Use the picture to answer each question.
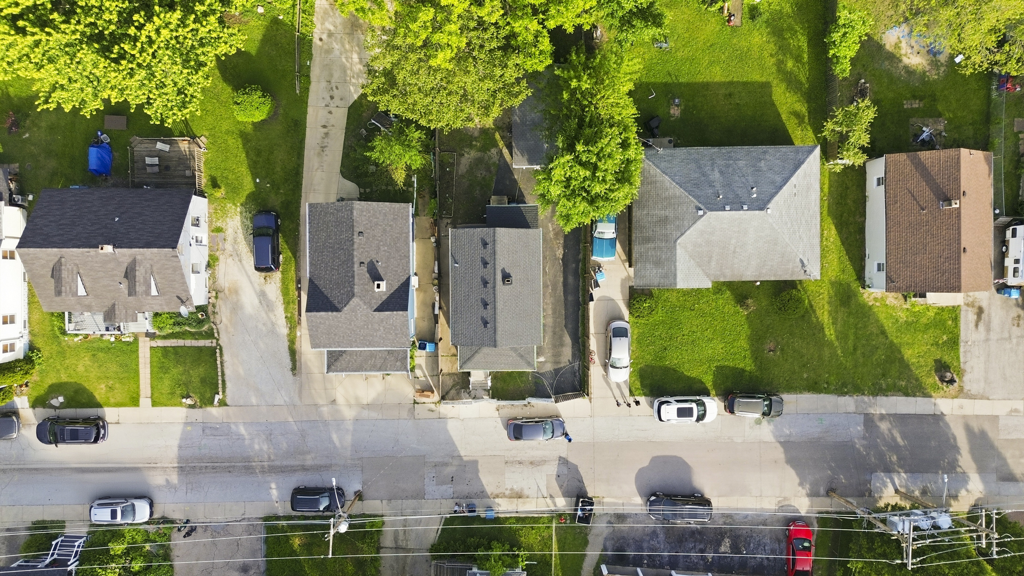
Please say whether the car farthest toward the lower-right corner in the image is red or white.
red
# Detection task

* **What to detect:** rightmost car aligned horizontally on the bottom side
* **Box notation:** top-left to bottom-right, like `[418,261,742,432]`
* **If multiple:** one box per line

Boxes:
[722,392,782,421]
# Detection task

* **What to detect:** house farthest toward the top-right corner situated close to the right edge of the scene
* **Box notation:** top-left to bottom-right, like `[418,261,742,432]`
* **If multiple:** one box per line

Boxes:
[865,147,997,305]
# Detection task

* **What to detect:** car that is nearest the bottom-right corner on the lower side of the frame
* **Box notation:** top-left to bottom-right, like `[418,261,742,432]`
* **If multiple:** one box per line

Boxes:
[784,518,816,576]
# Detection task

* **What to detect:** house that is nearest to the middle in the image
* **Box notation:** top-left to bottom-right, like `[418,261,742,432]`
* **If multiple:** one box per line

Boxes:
[449,200,544,390]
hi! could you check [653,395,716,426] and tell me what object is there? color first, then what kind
white car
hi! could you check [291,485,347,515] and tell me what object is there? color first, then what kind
black car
